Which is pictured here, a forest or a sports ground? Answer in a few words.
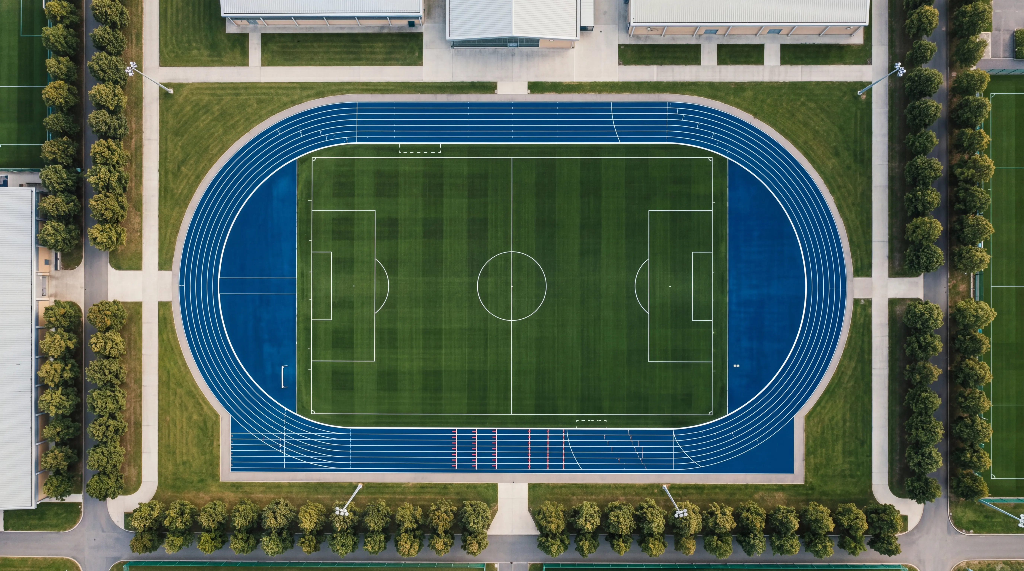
sports ground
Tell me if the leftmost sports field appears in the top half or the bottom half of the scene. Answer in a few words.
top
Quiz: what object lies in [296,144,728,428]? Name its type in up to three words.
soccer field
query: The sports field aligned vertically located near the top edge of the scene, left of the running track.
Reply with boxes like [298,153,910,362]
[0,0,56,168]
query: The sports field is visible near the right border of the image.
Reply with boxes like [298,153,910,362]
[984,74,1024,498]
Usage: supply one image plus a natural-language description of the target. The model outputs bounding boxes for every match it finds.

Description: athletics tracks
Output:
[178,101,847,474]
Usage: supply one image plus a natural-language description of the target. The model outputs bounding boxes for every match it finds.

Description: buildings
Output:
[0,187,51,510]
[446,0,579,50]
[628,0,870,37]
[220,0,423,26]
